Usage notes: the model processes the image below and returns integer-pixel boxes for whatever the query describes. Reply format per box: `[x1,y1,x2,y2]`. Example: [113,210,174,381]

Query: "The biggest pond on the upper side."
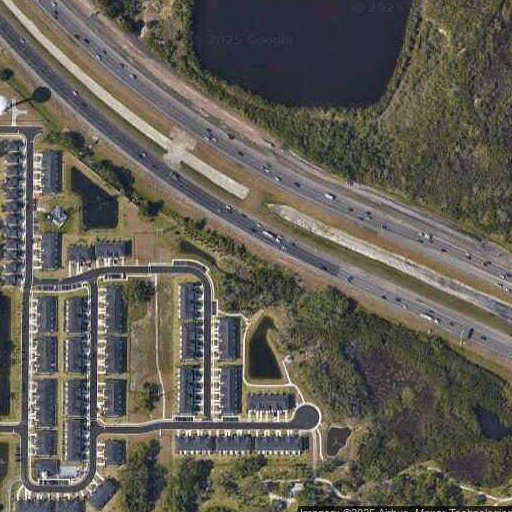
[70,166,117,229]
